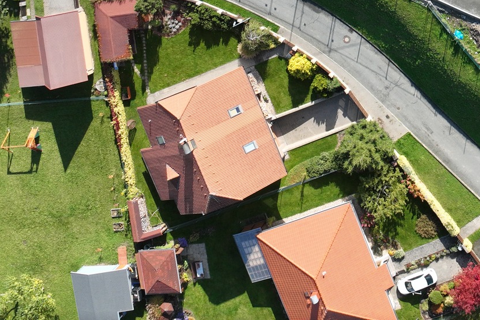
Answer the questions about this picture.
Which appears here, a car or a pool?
car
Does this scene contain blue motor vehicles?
No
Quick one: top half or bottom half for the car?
bottom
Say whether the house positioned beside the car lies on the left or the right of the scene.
right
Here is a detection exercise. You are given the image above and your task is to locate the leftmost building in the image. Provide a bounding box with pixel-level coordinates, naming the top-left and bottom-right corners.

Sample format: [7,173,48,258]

[10,10,92,91]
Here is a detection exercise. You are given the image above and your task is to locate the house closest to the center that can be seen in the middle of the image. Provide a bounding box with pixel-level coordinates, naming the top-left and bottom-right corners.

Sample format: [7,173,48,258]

[137,66,288,215]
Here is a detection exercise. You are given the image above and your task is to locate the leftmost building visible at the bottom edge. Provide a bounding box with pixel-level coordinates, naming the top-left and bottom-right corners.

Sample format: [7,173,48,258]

[71,265,142,320]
